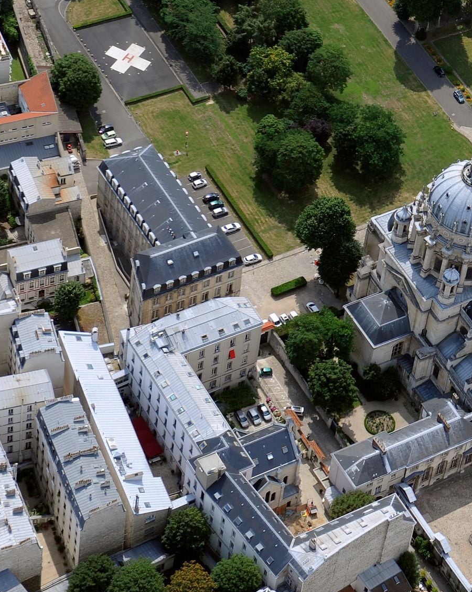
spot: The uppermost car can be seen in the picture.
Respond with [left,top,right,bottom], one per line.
[430,64,446,78]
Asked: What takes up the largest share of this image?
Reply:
buildings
